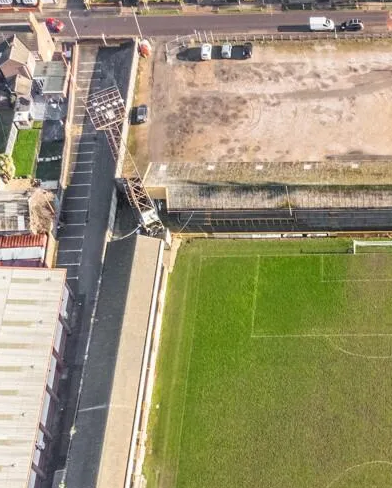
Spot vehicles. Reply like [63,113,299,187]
[241,44,253,61]
[200,45,212,63]
[222,46,232,61]
[343,20,363,31]
[310,18,334,31]
[47,19,65,34]
[136,108,148,124]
